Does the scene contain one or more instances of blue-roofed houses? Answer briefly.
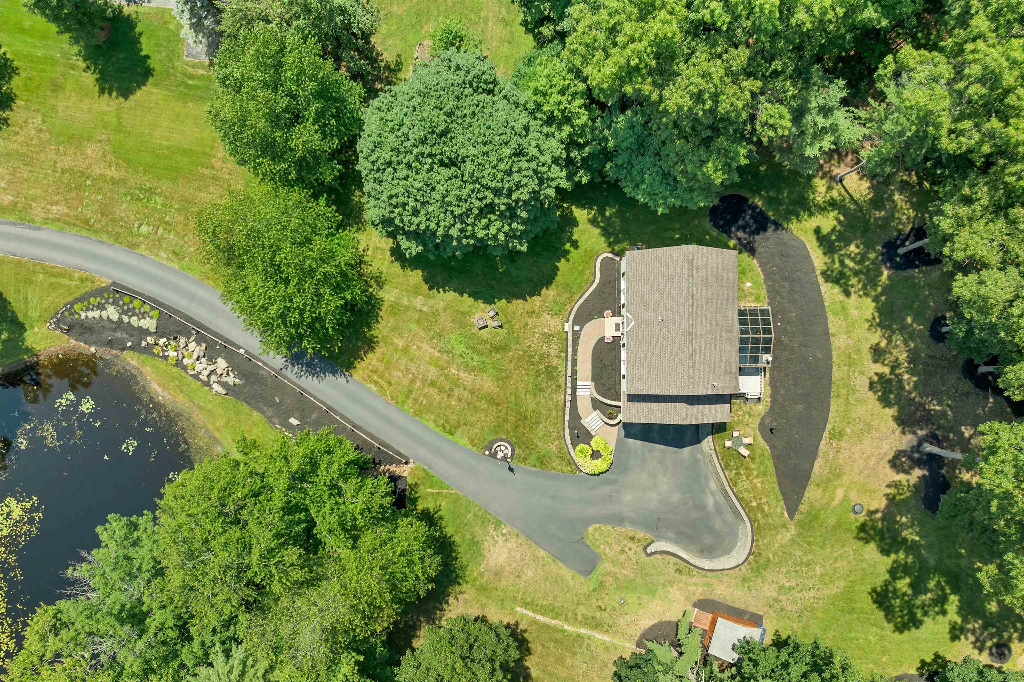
No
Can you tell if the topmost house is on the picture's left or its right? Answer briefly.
right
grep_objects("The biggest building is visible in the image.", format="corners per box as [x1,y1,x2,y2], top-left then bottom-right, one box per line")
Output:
[620,245,775,427]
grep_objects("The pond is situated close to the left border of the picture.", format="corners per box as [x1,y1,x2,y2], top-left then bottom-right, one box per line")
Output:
[0,375,182,682]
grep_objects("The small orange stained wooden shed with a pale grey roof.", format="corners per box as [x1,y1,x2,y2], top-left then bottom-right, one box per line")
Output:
[690,610,767,673]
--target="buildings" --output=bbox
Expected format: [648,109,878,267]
[690,610,767,673]
[620,245,775,427]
